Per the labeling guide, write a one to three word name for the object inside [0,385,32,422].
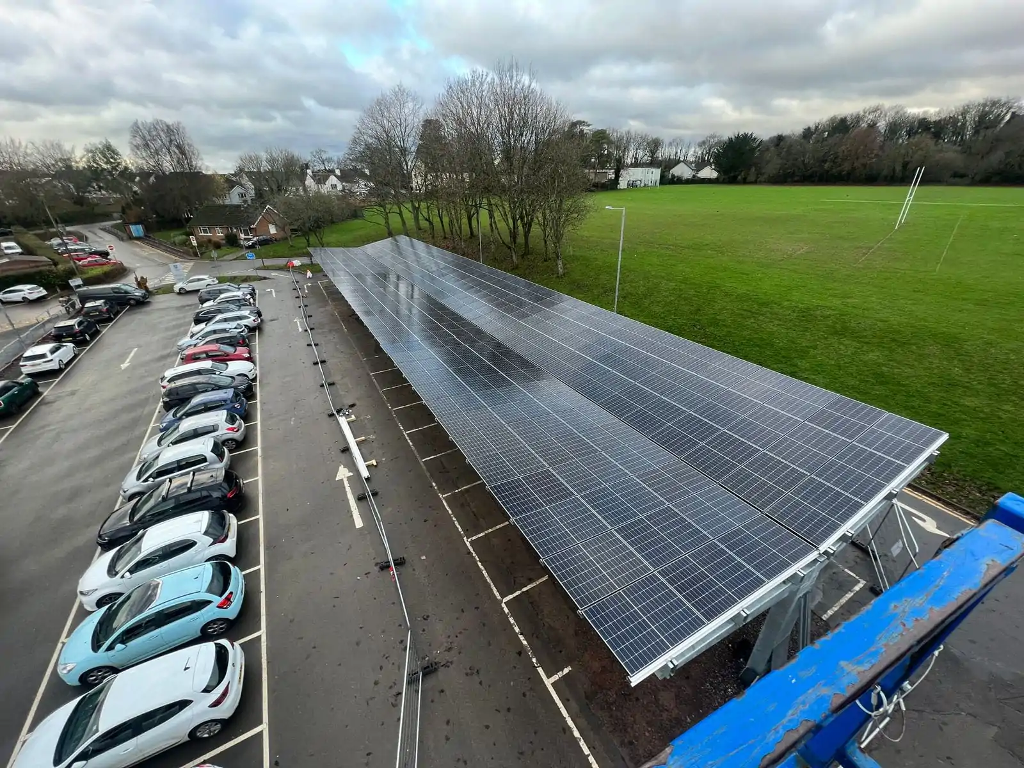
car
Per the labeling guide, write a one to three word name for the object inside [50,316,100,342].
car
